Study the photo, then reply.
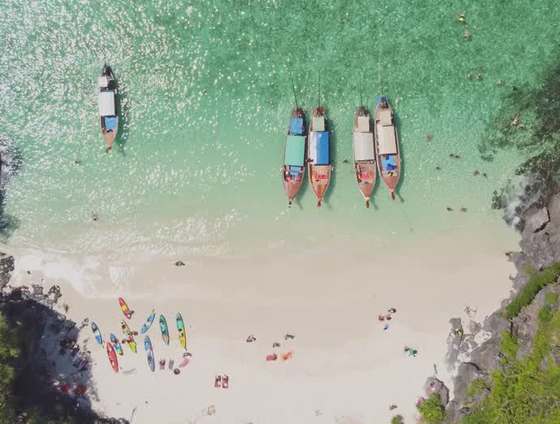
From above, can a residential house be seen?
No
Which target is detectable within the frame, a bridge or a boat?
boat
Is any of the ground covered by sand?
Yes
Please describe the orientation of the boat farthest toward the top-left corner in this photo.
from top to bottom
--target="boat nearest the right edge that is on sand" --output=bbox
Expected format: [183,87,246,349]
[377,67,402,203]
